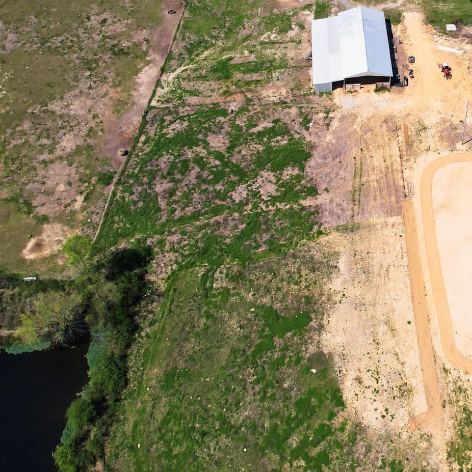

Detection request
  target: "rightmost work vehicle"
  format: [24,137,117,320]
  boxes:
[436,61,454,80]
